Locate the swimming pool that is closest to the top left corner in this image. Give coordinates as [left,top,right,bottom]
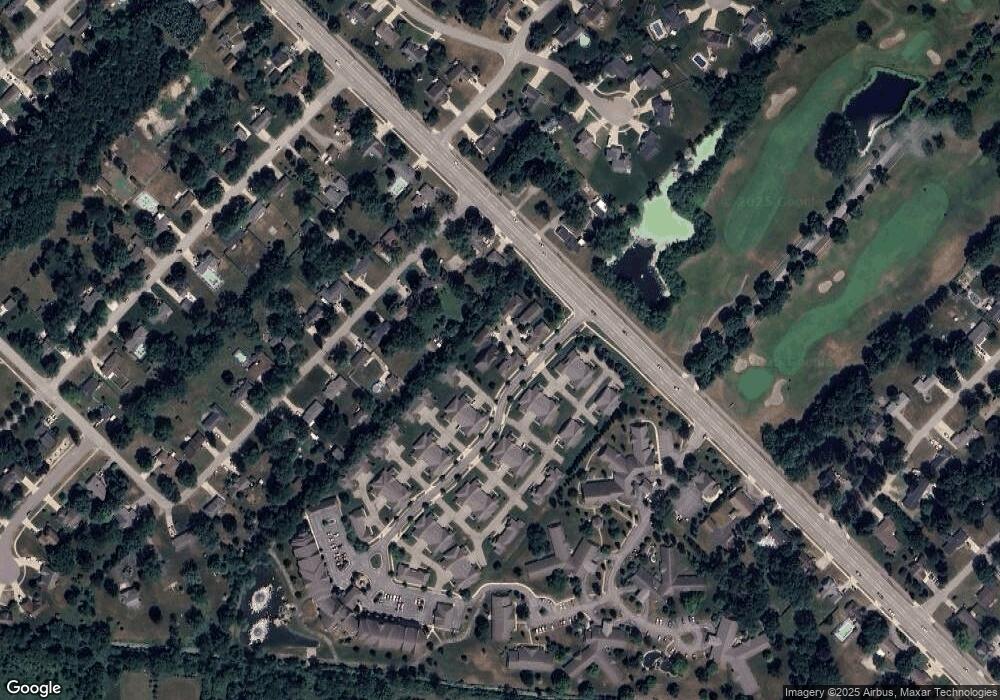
[135,190,159,213]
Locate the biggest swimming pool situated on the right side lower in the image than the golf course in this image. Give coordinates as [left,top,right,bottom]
[834,619,856,641]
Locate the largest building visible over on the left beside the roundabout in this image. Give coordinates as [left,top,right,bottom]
[289,531,368,634]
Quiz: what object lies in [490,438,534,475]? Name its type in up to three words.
house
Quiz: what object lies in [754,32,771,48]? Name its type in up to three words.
swimming pool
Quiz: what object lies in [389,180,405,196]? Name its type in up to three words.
swimming pool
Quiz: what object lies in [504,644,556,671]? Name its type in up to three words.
building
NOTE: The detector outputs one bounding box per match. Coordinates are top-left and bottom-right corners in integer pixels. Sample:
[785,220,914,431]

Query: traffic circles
[357,544,394,578]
